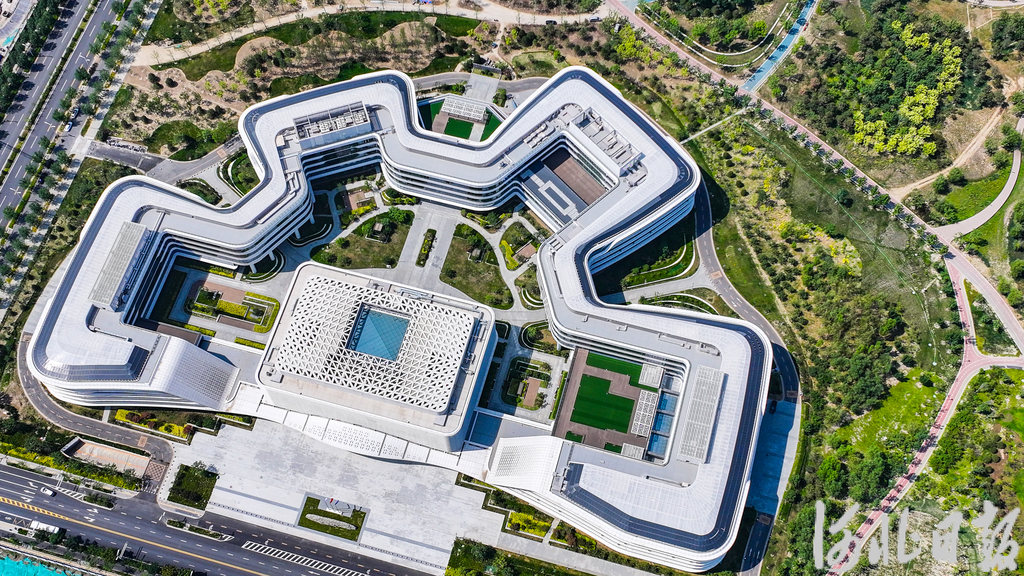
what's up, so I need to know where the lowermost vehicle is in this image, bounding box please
[28,518,60,533]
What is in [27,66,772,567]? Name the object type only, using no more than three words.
building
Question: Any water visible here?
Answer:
No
